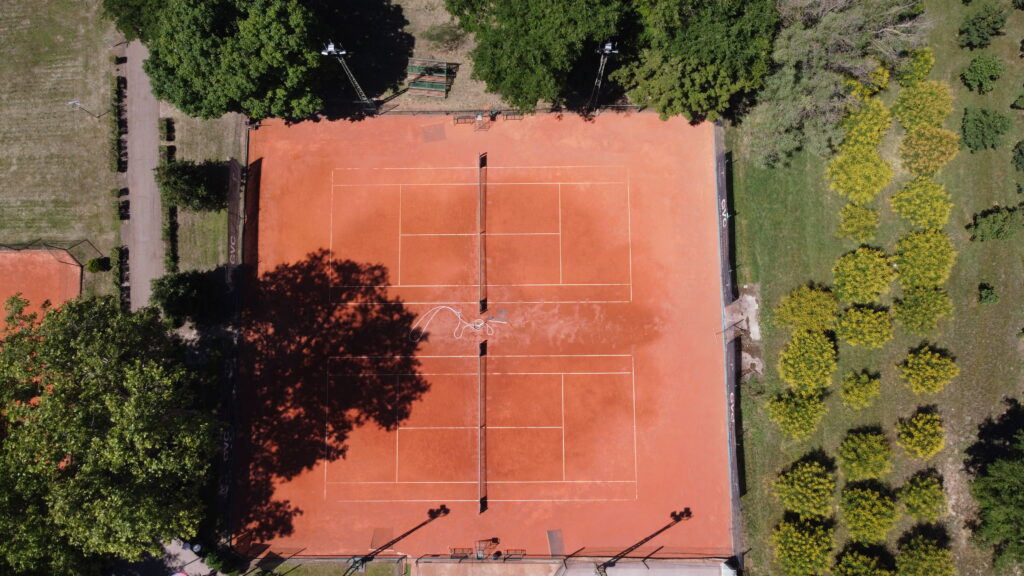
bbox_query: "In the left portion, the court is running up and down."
[0,249,81,567]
